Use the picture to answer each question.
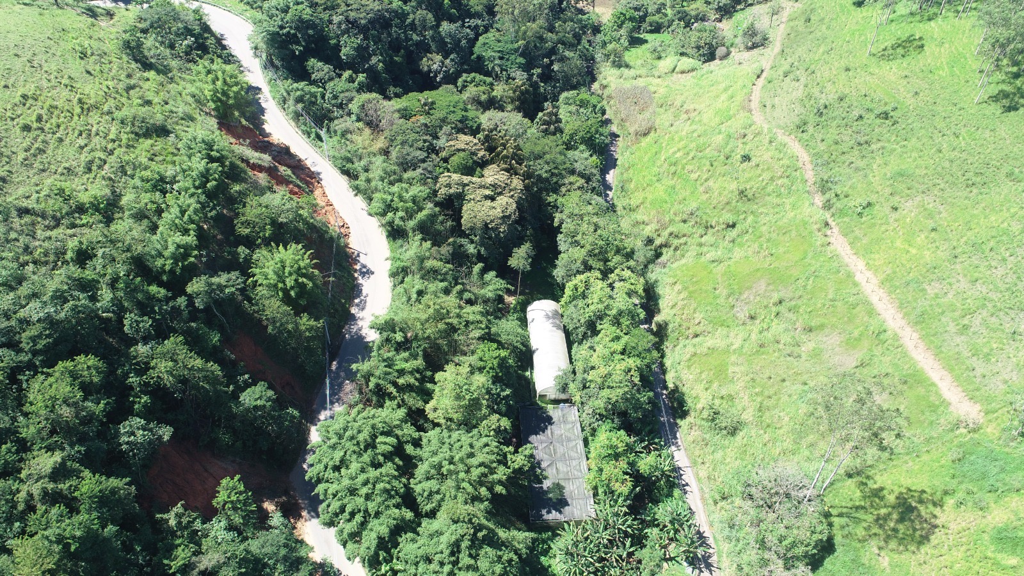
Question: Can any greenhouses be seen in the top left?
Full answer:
No, the scene shows no greenhouse in the top left.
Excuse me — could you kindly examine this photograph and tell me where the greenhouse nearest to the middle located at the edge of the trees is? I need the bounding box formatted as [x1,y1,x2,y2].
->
[527,304,572,400]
